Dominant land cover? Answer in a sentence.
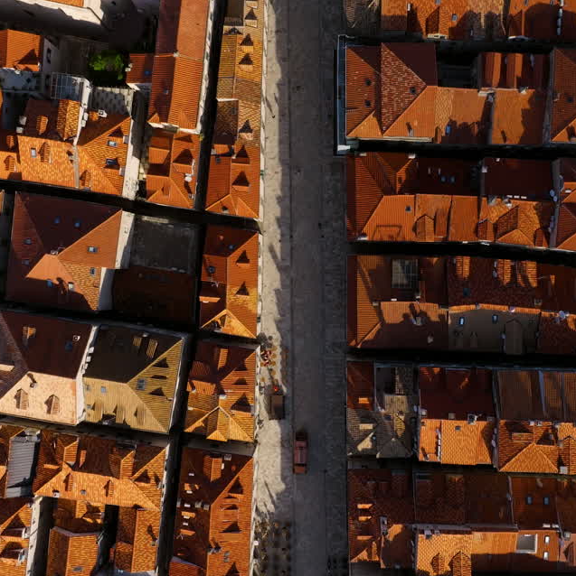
The largest share of the image is taken up by buildings.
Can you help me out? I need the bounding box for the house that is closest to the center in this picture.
[201,225,265,338]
